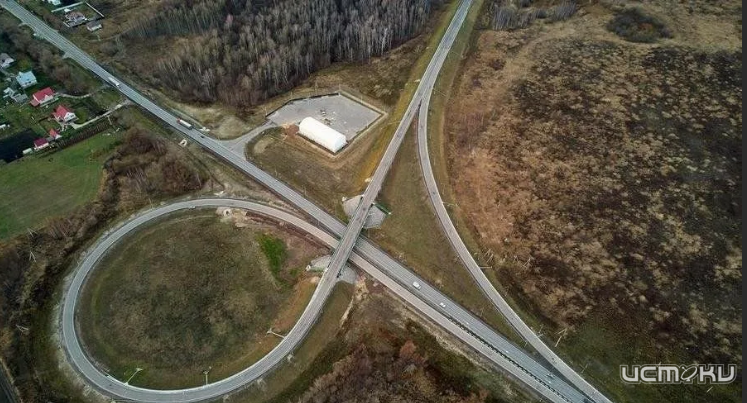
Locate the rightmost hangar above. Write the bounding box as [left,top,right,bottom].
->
[297,117,350,153]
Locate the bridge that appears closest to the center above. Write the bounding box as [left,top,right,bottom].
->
[309,197,396,283]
